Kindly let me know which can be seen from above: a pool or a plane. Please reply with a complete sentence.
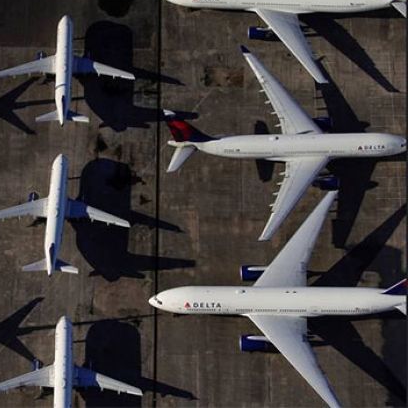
The one in the frame is a plane.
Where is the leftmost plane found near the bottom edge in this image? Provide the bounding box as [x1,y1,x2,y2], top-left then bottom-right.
[0,318,139,408]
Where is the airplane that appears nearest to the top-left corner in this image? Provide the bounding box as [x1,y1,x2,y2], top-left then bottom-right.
[0,16,134,126]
